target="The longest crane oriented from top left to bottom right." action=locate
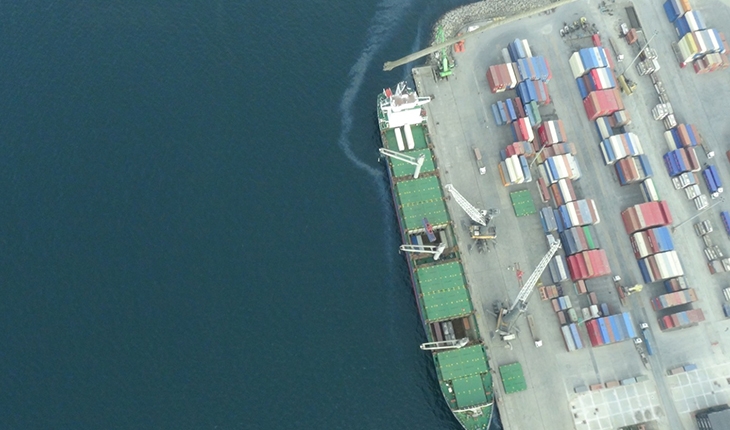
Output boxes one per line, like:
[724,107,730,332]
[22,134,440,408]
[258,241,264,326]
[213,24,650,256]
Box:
[443,183,498,250]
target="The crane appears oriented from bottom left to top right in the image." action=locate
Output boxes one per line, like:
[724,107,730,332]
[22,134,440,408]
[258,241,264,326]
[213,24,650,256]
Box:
[486,237,561,343]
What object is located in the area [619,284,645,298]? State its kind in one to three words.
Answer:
work vehicle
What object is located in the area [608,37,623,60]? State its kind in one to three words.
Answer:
vehicle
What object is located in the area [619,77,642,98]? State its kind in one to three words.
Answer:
work vehicle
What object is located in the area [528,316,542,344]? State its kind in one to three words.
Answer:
vehicle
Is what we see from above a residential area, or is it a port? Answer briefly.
port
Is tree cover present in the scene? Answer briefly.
No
